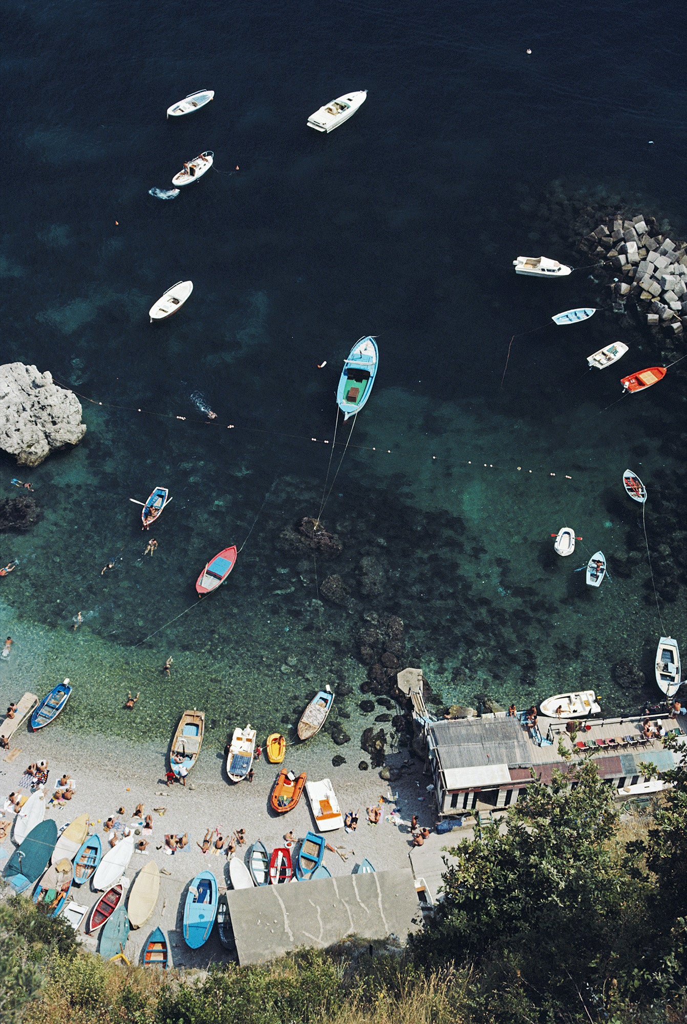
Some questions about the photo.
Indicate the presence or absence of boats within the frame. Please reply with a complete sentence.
Yes, this view includes a boat.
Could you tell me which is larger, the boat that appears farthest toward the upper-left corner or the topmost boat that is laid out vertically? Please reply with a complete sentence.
Compared with the boat that appears farthest toward the upper-left corner, the topmost boat that is laid out vertically is the bigger one.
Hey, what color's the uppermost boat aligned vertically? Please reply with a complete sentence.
The color of the uppermost boat aligned vertically is blue.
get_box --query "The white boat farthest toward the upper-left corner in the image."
[167,91,215,122]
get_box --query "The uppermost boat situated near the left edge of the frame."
[32,674,71,730]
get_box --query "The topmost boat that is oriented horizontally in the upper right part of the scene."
[510,258,571,283]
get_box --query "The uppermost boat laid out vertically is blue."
[343,335,381,424]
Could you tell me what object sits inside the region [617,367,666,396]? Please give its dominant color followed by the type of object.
red boat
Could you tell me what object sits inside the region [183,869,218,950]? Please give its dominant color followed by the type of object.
blue boat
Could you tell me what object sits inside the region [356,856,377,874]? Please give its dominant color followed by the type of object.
white boat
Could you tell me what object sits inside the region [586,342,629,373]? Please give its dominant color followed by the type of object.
white boat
